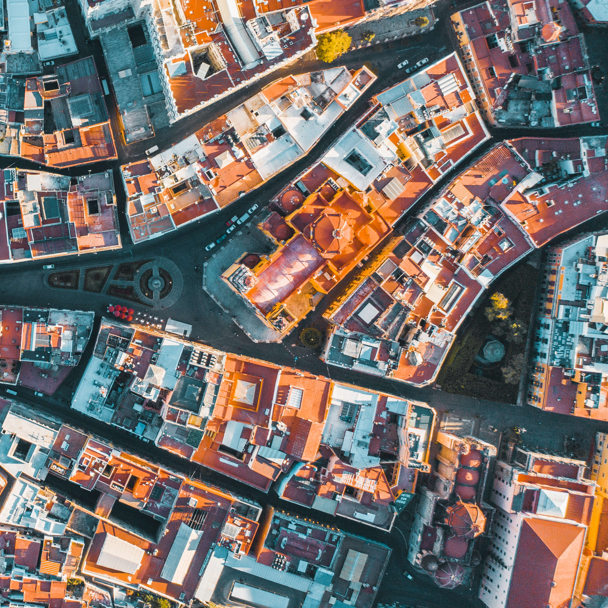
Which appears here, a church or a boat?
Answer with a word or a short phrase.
church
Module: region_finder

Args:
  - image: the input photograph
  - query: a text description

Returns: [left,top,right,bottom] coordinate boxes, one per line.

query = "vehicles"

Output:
[206,241,216,249]
[44,60,55,67]
[225,216,238,227]
[145,145,158,155]
[101,73,111,99]
[402,570,413,581]
[5,387,18,396]
[416,58,428,67]
[235,212,252,226]
[33,390,45,397]
[247,203,258,213]
[406,65,417,74]
[396,60,408,68]
[225,225,236,234]
[216,234,227,243]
